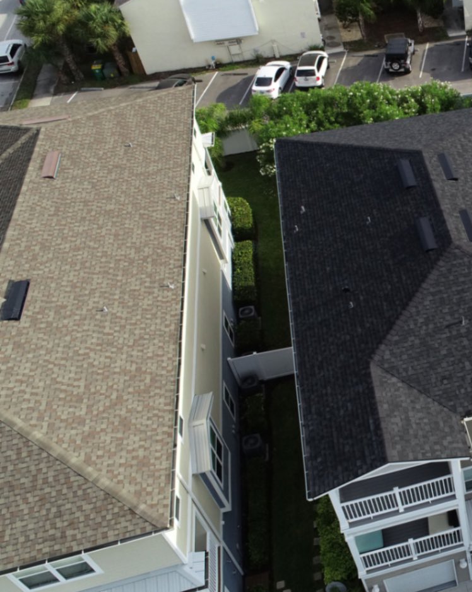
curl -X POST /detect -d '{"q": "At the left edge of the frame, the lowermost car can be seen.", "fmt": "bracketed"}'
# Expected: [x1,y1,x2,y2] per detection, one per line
[0,43,29,80]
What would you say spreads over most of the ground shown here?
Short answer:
buildings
